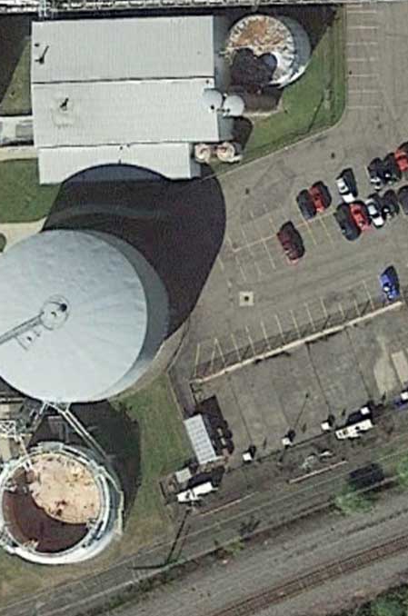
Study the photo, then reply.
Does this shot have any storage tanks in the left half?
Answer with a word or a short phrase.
Yes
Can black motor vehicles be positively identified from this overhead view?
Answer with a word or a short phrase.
Yes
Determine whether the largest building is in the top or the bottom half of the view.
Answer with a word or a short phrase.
top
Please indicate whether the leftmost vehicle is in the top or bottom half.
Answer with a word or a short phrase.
bottom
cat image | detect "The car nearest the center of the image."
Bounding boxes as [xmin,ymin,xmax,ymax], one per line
[278,229,299,258]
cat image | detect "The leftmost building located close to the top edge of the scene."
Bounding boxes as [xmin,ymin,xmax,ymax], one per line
[33,14,230,148]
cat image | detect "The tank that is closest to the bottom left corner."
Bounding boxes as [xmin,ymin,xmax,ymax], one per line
[0,441,124,564]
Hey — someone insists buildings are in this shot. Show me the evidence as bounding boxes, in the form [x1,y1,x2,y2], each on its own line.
[184,415,223,467]
[33,14,230,148]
